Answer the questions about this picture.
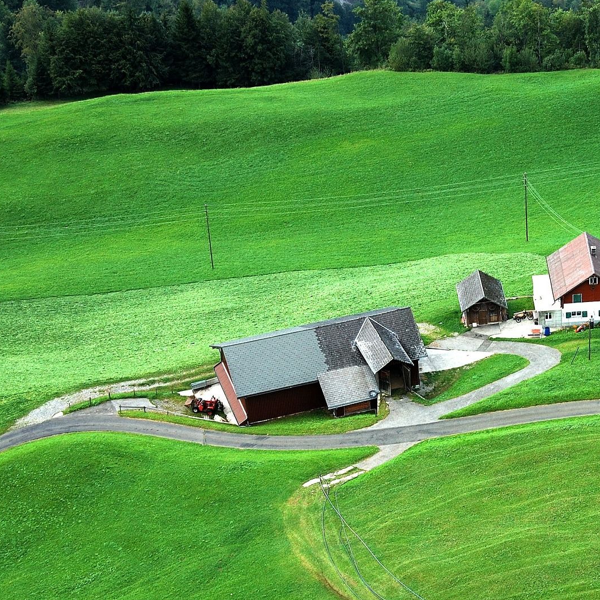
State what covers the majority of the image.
grass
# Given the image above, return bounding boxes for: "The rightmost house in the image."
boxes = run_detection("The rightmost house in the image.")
[529,233,600,328]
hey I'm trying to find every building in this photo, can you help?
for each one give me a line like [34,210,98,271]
[209,307,429,427]
[456,270,508,329]
[529,233,600,328]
